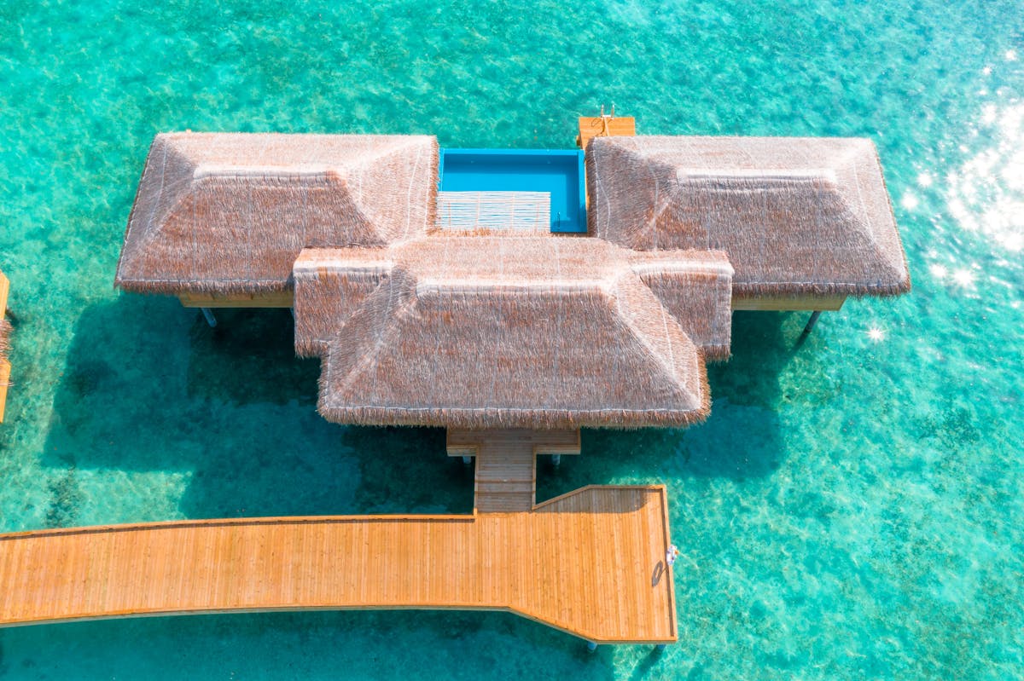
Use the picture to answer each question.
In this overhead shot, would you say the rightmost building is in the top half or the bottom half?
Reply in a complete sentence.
Seen from above, the rightmost building lies in the top half of the view.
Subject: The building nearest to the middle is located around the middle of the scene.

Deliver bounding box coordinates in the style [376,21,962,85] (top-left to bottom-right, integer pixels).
[292,232,733,430]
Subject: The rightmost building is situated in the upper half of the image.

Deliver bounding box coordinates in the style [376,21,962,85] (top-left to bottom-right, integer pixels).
[582,135,911,341]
